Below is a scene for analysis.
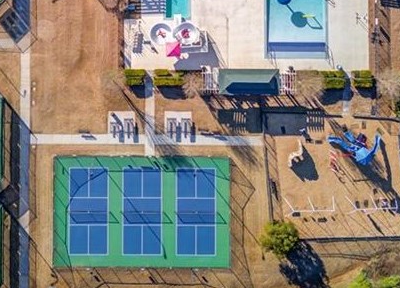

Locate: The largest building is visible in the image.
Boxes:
[218,68,279,94]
